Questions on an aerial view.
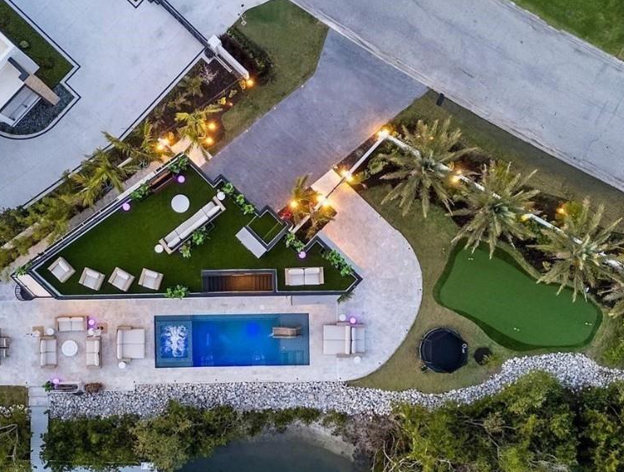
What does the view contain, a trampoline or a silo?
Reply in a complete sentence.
The one in the frame is a trampoline.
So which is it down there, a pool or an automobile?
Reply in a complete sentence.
This aerial view contains a pool.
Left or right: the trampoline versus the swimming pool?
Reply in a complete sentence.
Relative to the swimming pool, the trampoline lies to the right.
